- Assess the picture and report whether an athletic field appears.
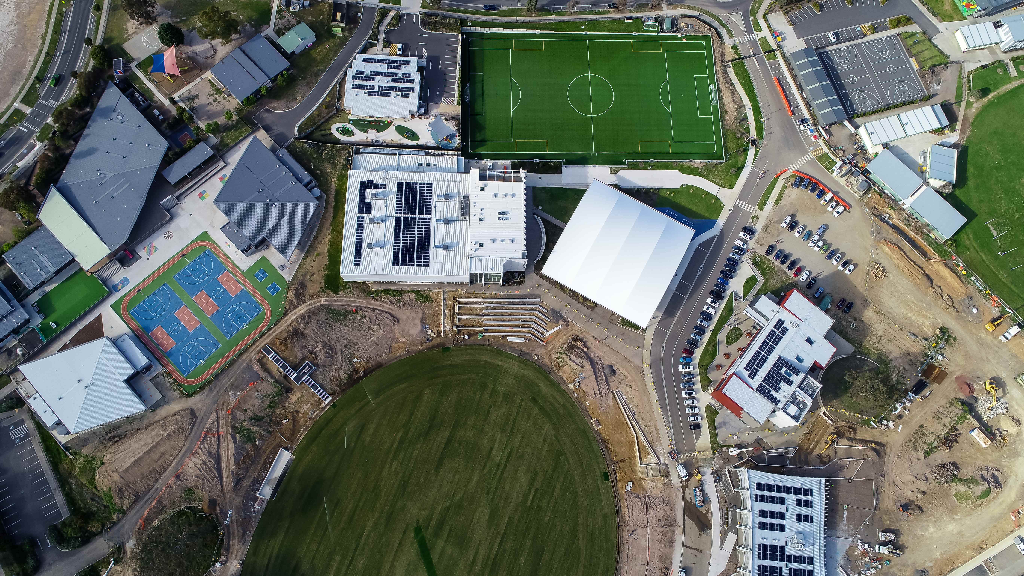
Yes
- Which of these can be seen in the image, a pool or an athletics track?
athletics track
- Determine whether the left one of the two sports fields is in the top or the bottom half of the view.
top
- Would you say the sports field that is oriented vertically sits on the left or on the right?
right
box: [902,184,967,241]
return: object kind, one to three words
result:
building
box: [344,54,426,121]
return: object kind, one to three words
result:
building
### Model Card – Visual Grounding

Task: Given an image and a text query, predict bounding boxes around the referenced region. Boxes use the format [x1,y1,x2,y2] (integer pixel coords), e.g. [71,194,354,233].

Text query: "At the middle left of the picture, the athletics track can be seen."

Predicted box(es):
[120,240,271,385]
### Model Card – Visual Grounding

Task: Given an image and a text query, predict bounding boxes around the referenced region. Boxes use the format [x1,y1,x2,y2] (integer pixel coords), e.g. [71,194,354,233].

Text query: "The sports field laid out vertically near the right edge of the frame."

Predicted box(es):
[956,81,1024,285]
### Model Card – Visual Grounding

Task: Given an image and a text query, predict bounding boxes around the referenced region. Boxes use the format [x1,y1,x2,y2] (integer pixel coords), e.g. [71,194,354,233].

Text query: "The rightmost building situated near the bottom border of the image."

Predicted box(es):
[727,468,831,576]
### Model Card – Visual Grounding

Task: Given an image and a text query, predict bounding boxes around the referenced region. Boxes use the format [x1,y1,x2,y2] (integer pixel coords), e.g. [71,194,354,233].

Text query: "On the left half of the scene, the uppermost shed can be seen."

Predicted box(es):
[277,22,315,57]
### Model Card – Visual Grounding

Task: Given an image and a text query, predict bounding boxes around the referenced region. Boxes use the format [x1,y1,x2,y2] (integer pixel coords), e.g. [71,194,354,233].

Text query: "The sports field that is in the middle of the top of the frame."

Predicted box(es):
[461,33,724,166]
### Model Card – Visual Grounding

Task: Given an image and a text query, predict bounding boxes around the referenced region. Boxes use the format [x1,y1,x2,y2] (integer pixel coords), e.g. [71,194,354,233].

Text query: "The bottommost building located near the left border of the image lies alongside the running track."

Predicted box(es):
[17,334,153,433]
